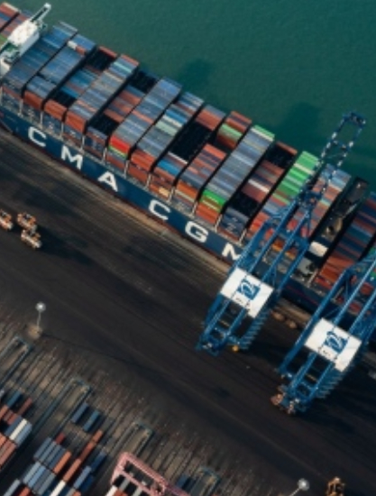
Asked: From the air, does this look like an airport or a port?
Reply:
port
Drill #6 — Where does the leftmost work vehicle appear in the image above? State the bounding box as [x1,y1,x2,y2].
[0,209,20,234]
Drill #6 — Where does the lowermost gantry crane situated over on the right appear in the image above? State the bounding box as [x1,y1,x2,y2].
[270,251,376,421]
